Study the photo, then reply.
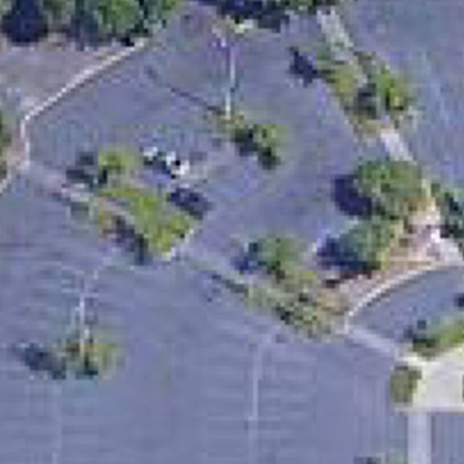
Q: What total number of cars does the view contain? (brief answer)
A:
2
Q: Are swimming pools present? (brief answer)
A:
No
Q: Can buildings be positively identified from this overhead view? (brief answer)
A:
No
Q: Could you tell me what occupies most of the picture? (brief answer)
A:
paved ground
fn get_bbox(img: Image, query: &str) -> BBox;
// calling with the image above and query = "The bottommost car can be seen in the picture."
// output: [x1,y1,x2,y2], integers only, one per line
[162,186,213,222]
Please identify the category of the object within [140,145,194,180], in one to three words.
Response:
car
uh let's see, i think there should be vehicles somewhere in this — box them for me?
[162,186,213,222]
[140,145,194,180]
